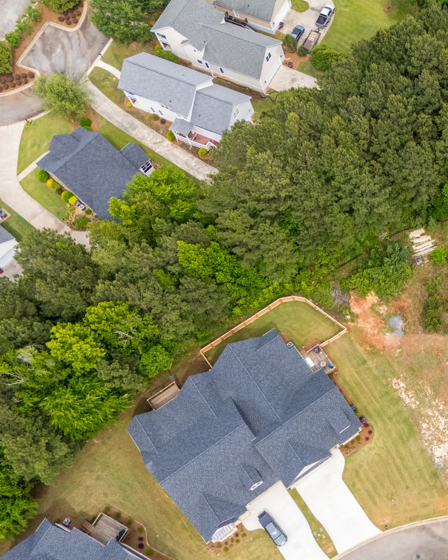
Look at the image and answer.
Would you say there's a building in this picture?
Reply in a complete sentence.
Yes, the photo shows a building.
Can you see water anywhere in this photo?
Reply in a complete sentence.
No, there is no water in the image.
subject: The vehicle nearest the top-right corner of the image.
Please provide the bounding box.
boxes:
[313,4,335,31]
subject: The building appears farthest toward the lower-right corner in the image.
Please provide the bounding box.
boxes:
[127,327,362,543]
